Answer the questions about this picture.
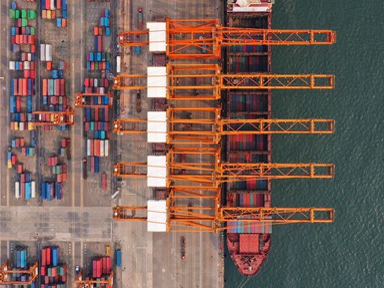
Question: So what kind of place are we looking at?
port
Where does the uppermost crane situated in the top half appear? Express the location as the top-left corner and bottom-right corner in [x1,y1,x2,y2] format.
[119,18,337,62]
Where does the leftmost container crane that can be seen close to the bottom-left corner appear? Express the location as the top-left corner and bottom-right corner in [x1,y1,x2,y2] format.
[0,259,39,285]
